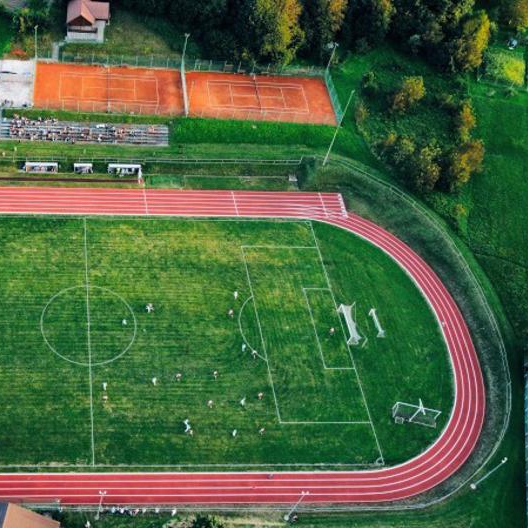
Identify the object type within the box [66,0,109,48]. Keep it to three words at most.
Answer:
building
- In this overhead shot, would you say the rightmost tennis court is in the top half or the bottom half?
top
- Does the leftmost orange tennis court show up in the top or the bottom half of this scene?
top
